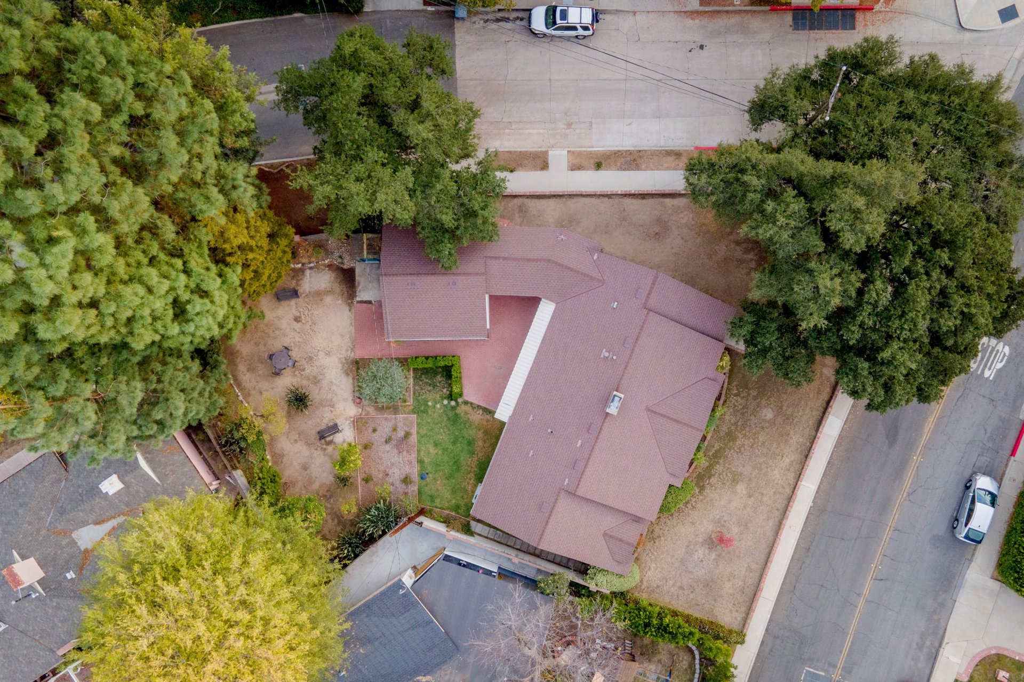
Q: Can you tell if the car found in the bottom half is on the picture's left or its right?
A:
right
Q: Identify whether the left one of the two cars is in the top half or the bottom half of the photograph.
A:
top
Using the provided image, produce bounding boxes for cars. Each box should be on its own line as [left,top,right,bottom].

[953,474,1003,547]
[530,0,599,37]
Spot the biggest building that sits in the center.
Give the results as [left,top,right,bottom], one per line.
[382,224,732,575]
